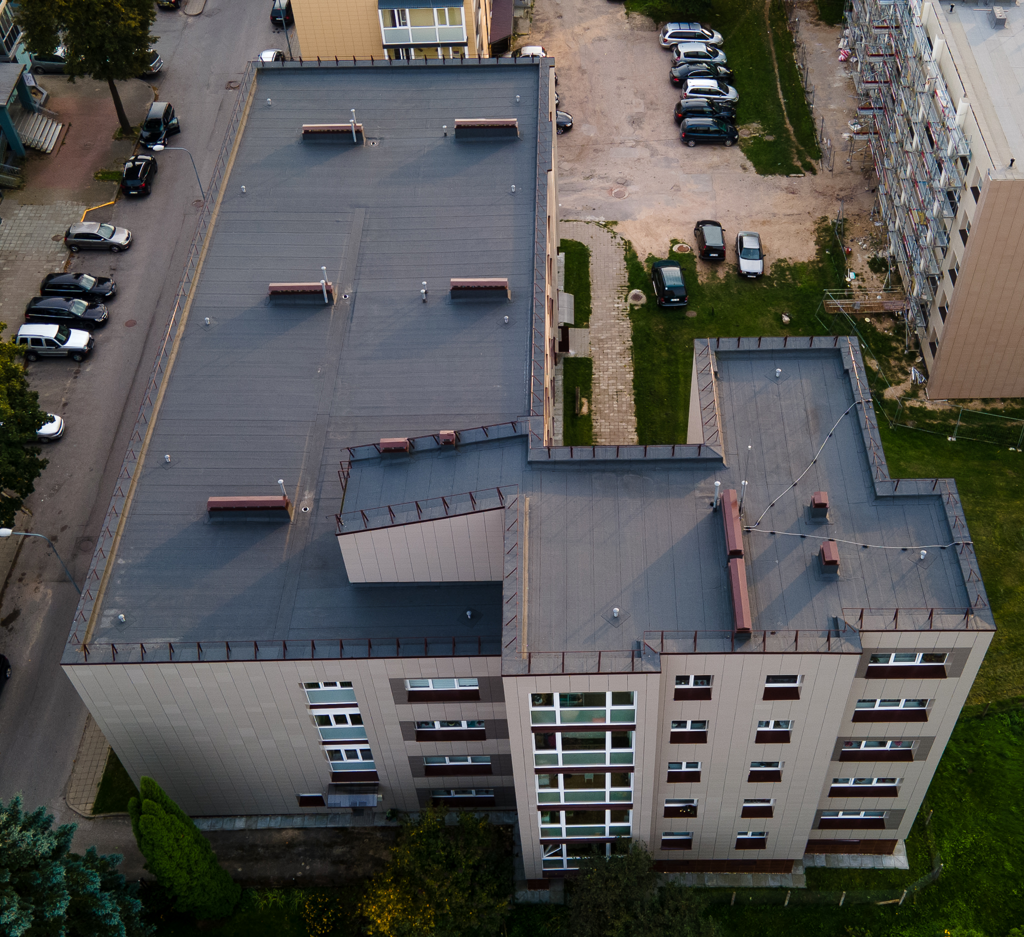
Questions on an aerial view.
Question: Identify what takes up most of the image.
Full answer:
Most of the picture is covered by buildings.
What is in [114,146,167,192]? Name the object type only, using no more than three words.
car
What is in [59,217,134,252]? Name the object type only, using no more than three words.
car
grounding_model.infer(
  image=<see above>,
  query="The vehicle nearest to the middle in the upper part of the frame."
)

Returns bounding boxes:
[650,246,690,304]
